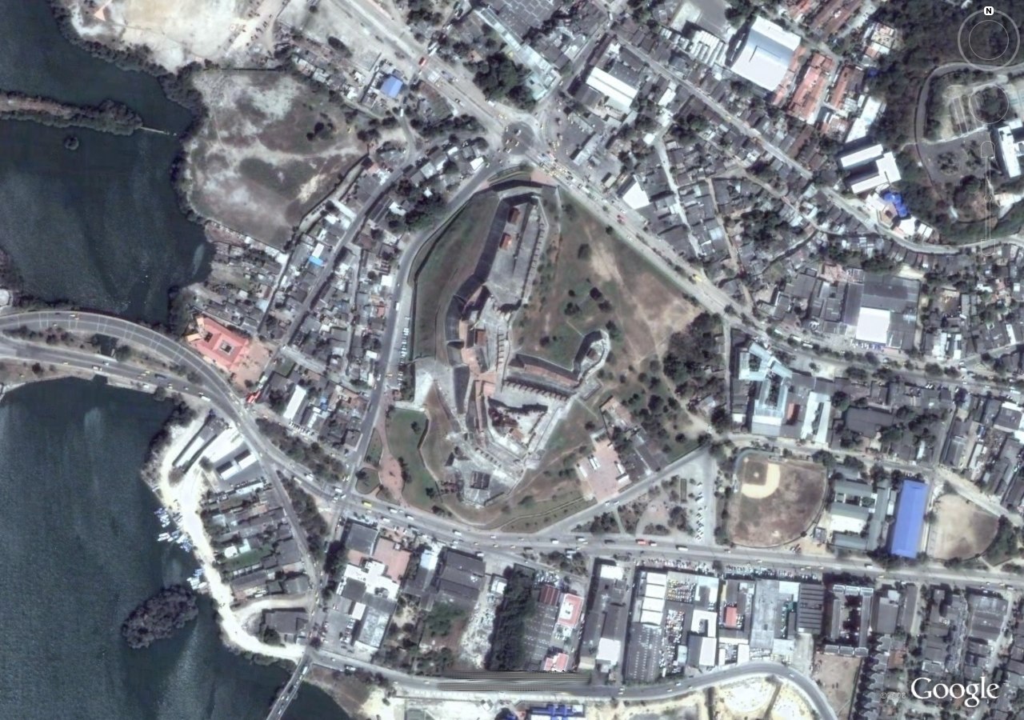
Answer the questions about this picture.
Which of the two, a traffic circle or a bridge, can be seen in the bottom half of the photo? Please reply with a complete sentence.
The one visible in the bottom half of the photo is a bridge.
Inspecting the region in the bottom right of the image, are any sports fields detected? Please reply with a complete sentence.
Yes, I can see a sports field in the bottom right of the image.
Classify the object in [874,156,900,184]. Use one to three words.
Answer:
building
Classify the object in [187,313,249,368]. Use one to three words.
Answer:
house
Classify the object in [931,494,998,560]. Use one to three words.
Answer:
sports field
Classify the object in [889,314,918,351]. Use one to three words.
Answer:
building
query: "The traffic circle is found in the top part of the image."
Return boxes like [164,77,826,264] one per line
[497,116,547,157]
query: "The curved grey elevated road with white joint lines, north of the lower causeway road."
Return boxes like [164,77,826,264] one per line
[0,312,246,427]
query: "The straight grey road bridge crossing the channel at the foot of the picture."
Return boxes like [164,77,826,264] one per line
[269,644,315,720]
